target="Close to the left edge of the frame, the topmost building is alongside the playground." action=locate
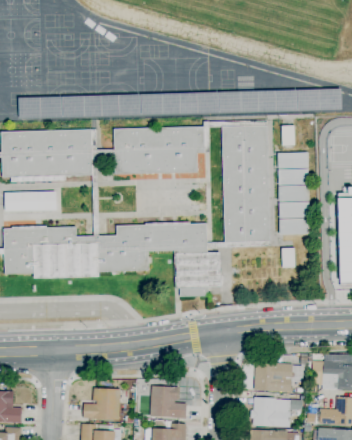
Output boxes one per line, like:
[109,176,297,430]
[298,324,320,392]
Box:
[1,128,94,176]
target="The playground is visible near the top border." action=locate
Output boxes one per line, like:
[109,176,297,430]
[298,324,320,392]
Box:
[0,0,352,120]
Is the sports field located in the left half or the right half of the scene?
right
